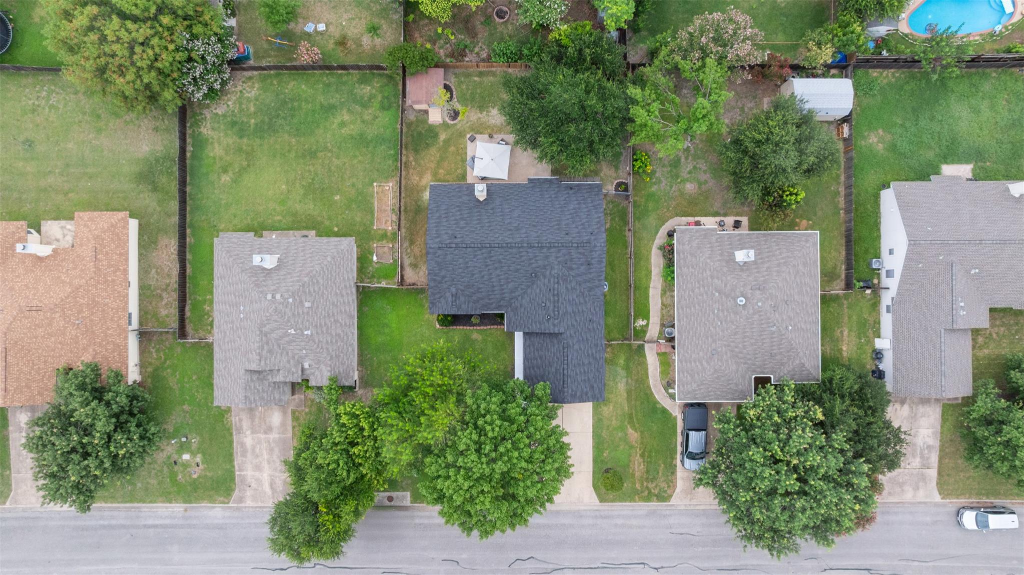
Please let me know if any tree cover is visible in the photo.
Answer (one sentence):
Yes, there's tree cover in this view.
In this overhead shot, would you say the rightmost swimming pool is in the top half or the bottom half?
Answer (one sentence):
You can find the rightmost swimming pool in the top half.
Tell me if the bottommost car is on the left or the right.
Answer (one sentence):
The bottommost car appears in the right half of the scene.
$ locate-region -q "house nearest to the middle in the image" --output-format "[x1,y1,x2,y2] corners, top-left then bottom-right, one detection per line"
[427,177,606,404]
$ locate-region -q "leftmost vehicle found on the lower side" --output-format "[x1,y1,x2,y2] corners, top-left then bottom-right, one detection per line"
[679,402,711,471]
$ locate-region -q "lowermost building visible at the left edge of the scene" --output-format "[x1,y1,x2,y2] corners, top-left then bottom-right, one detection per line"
[0,211,143,408]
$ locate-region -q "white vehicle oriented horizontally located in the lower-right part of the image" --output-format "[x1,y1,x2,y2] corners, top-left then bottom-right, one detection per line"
[956,505,1016,534]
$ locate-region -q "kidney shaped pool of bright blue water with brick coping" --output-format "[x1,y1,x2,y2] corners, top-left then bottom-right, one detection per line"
[905,0,1018,38]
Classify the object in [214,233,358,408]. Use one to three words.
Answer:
house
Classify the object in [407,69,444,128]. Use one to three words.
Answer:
shed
